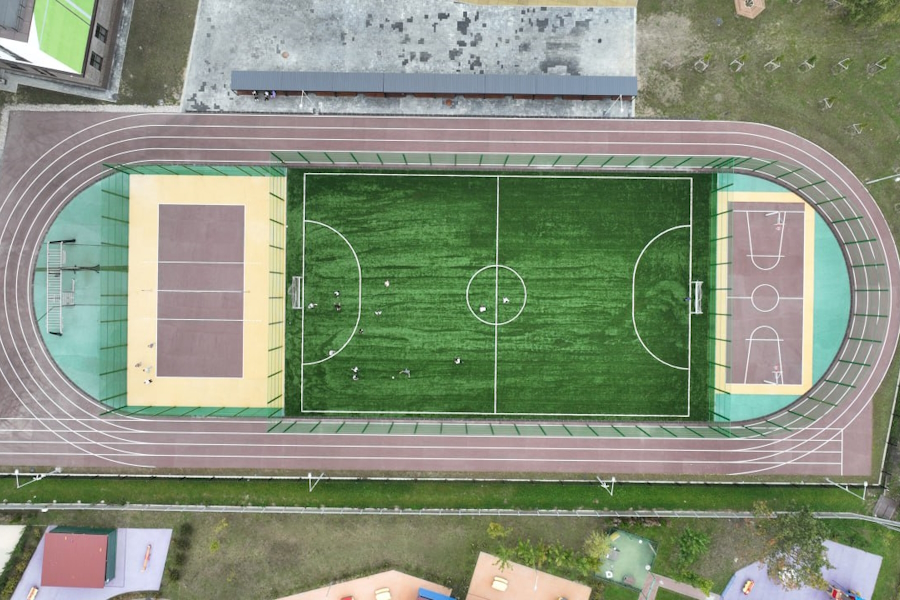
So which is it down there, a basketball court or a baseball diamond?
basketball court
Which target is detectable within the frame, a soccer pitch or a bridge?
soccer pitch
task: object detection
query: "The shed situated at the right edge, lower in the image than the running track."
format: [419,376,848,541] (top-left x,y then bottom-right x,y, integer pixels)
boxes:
[873,495,897,519]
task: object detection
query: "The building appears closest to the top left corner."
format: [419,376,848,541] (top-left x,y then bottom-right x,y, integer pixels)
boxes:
[0,0,123,92]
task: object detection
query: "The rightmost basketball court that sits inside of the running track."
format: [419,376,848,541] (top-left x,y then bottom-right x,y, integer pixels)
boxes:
[715,174,851,422]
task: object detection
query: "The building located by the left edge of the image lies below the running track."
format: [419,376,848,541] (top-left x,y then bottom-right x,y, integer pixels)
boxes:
[41,526,117,588]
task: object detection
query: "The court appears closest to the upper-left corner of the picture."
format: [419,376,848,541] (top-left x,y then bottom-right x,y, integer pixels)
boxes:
[127,167,287,416]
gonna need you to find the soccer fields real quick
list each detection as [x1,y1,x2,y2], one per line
[284,169,718,422]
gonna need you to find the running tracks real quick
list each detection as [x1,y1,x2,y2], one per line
[0,112,900,475]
